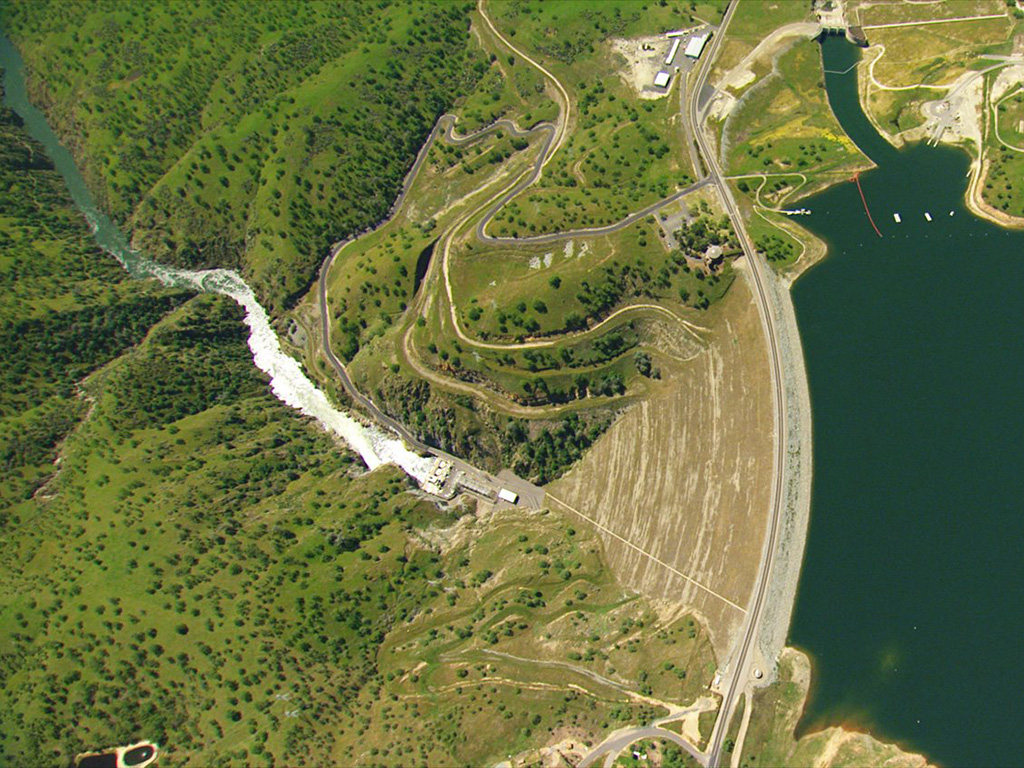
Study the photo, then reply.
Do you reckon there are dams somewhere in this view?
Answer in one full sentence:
Yes, this view includes a dam.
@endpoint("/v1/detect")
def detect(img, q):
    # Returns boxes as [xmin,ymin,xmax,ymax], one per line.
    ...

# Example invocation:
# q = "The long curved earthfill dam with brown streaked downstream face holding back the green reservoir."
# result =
[545,254,811,672]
